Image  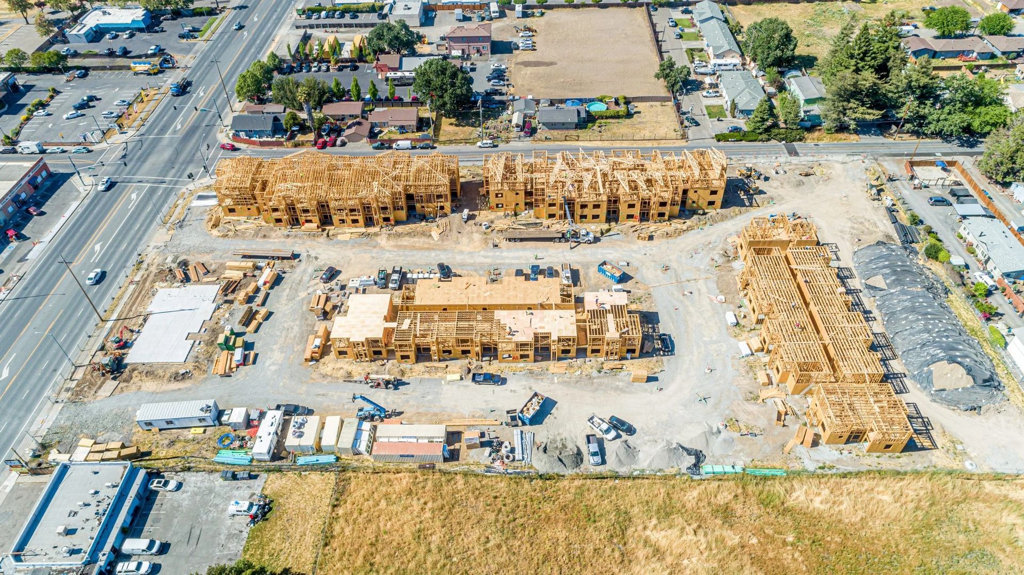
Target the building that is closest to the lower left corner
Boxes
[8,461,156,575]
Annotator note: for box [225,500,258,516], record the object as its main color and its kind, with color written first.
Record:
white car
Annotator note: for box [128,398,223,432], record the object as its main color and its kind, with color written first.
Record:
white trailer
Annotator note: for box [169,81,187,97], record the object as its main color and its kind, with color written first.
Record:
blue vehicle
